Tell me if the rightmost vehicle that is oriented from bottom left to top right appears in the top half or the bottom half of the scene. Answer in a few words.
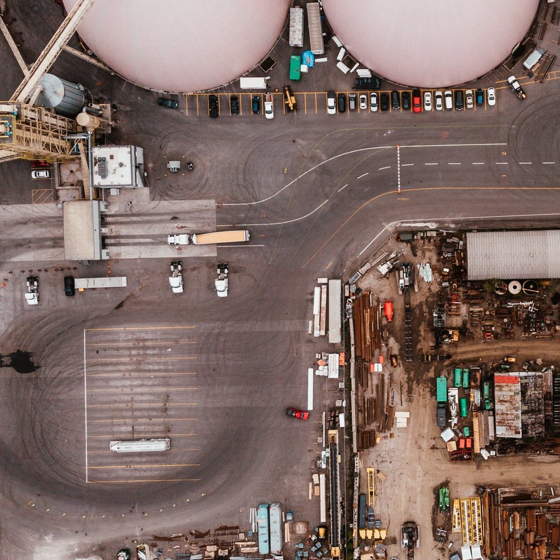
top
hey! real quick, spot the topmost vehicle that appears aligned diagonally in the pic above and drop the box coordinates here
[524,44,546,71]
